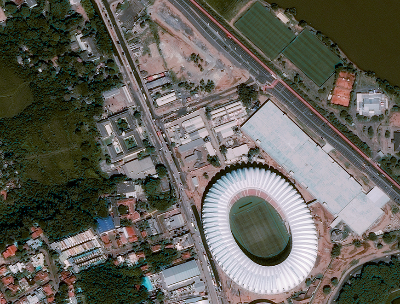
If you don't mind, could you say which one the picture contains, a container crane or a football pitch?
football pitch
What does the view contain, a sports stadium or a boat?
sports stadium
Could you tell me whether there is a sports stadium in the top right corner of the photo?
No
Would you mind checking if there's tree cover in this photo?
Yes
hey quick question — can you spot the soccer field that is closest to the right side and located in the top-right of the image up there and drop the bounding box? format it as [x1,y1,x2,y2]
[280,27,343,86]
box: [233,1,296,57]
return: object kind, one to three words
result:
soccer field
